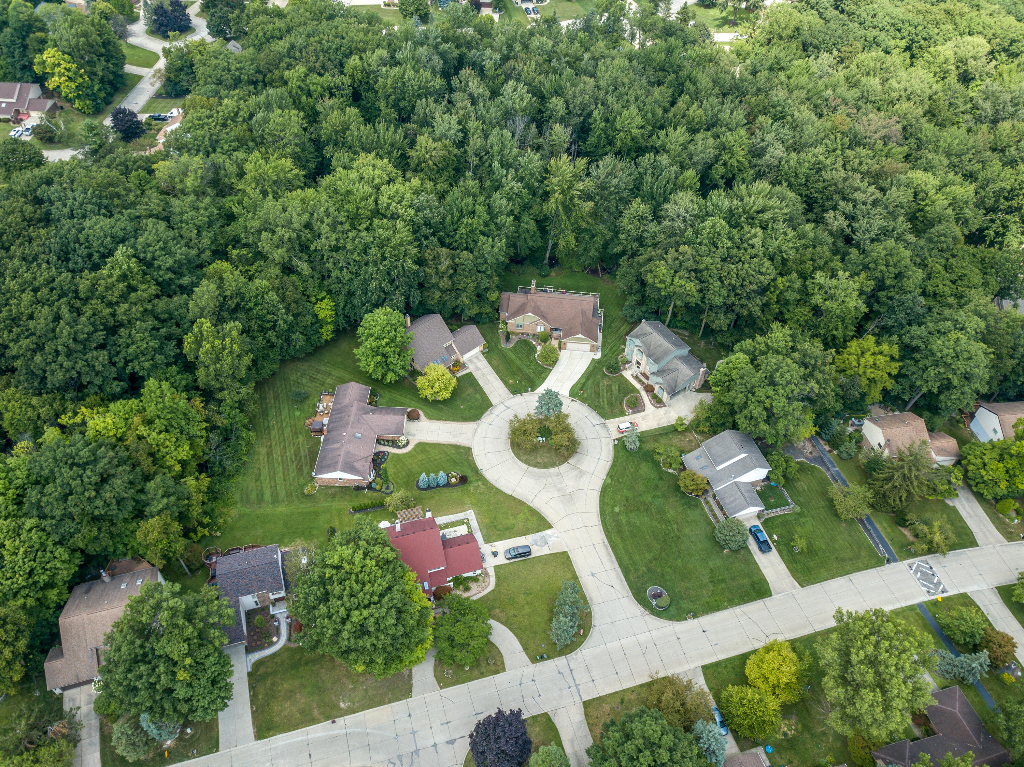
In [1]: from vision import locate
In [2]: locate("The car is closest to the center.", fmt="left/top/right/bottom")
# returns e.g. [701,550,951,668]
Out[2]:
[618,421,639,433]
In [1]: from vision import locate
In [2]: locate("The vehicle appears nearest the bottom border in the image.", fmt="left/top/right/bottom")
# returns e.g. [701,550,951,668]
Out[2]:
[708,704,731,737]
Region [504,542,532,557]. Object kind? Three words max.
vehicle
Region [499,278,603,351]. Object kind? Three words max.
house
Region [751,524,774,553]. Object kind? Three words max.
truck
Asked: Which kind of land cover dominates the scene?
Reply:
trees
